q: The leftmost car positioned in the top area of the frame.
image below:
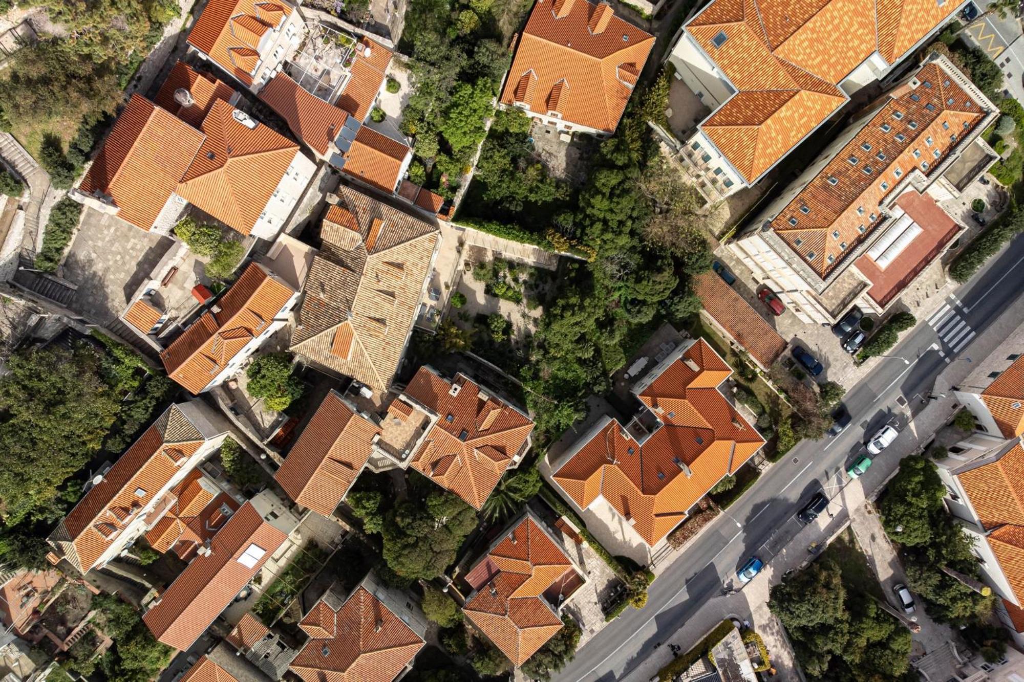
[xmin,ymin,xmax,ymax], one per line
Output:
[707,256,739,289]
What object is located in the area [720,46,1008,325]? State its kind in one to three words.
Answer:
building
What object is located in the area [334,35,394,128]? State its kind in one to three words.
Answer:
house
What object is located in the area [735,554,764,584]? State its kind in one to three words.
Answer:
car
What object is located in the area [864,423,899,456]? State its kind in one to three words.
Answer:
car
